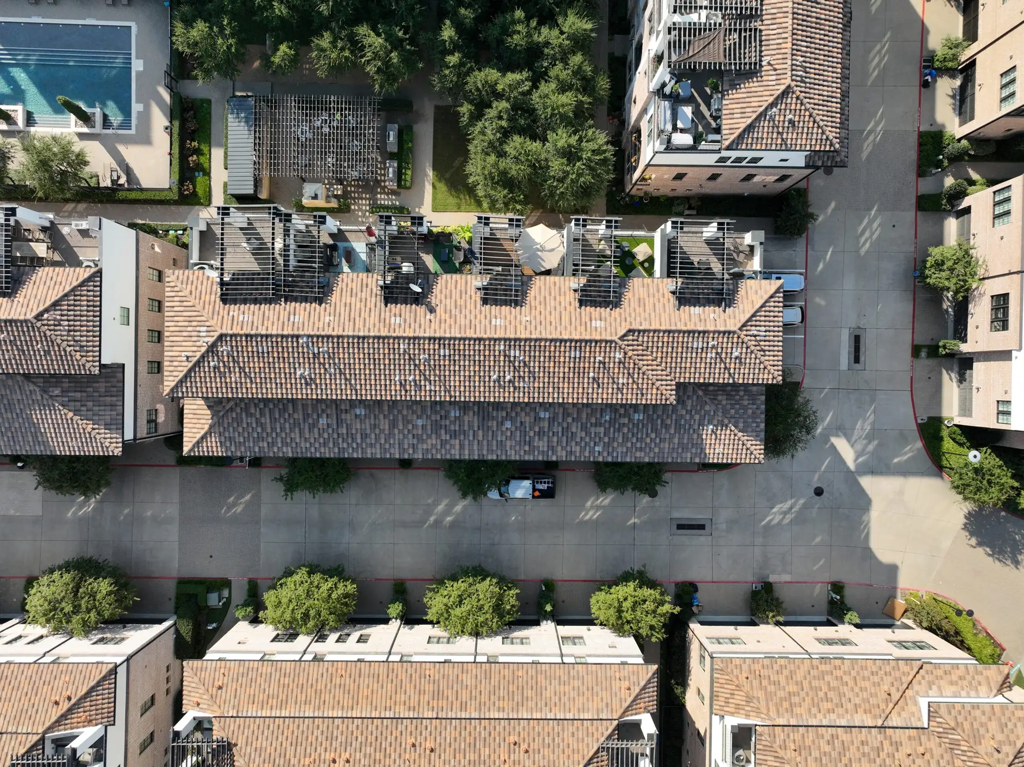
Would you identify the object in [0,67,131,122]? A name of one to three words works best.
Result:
swimming pool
